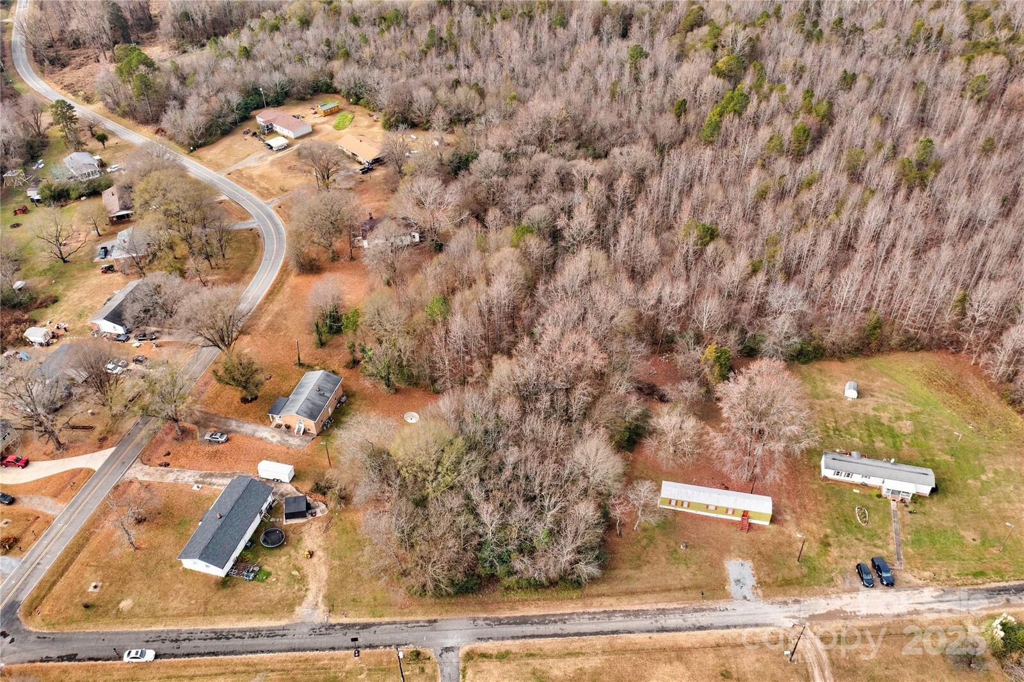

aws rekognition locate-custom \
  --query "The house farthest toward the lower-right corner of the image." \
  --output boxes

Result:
[820,450,934,503]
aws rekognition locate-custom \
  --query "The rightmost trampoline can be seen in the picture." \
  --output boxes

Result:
[259,529,284,548]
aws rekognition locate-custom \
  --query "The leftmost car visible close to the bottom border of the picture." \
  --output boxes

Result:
[121,648,155,664]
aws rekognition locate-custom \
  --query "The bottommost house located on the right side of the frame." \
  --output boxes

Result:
[658,480,773,532]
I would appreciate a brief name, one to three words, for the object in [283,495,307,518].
shed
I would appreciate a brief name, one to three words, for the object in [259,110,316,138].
house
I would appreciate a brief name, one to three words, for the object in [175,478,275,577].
house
